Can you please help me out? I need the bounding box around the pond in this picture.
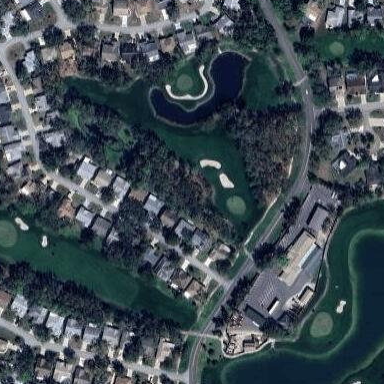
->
[150,53,248,127]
